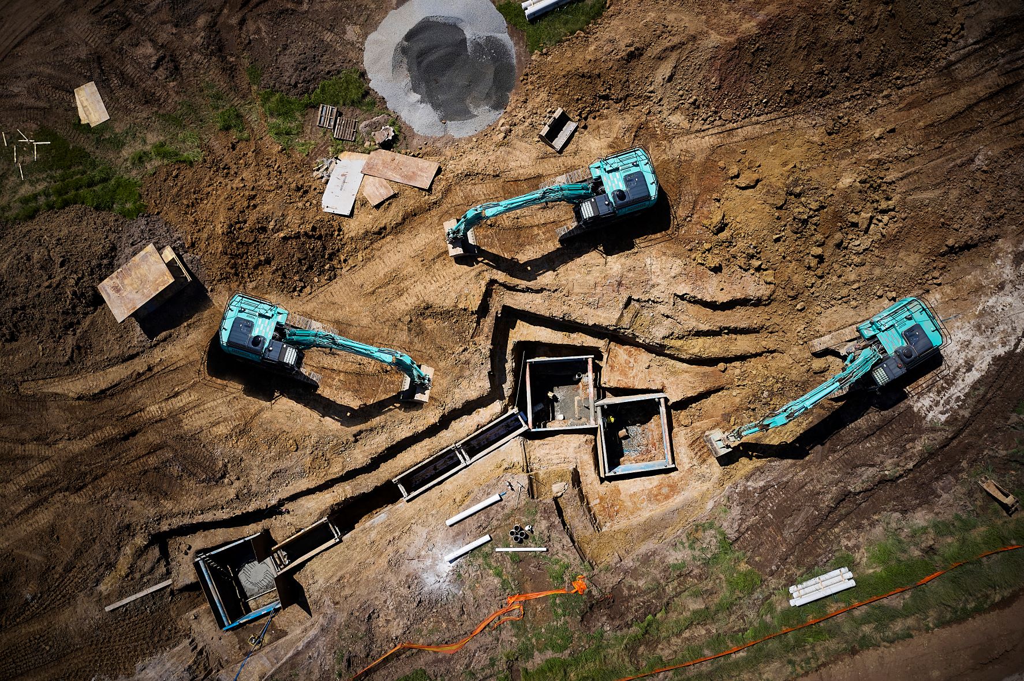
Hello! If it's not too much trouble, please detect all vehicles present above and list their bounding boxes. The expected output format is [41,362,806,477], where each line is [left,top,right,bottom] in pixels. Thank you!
[208,296,438,399]
[705,302,952,464]
[442,144,665,258]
